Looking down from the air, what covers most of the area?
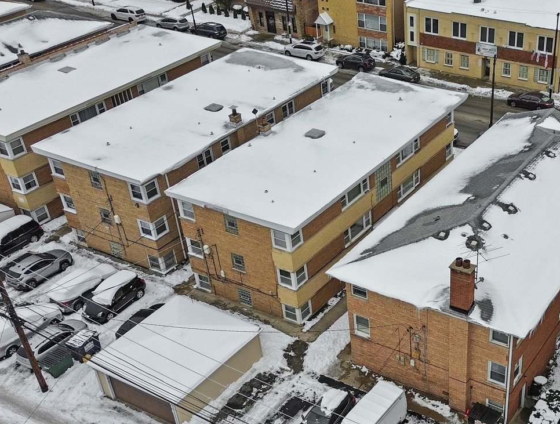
buildings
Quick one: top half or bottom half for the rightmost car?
top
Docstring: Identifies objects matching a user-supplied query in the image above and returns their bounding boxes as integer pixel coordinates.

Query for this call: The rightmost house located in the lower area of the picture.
[325,111,560,423]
